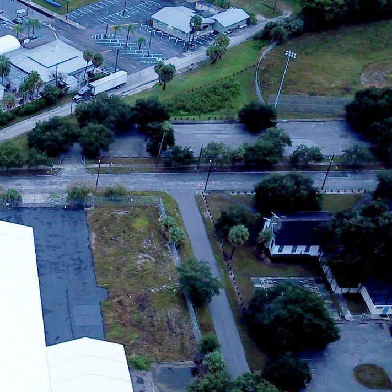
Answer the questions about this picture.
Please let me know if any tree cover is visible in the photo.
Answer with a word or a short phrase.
Yes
